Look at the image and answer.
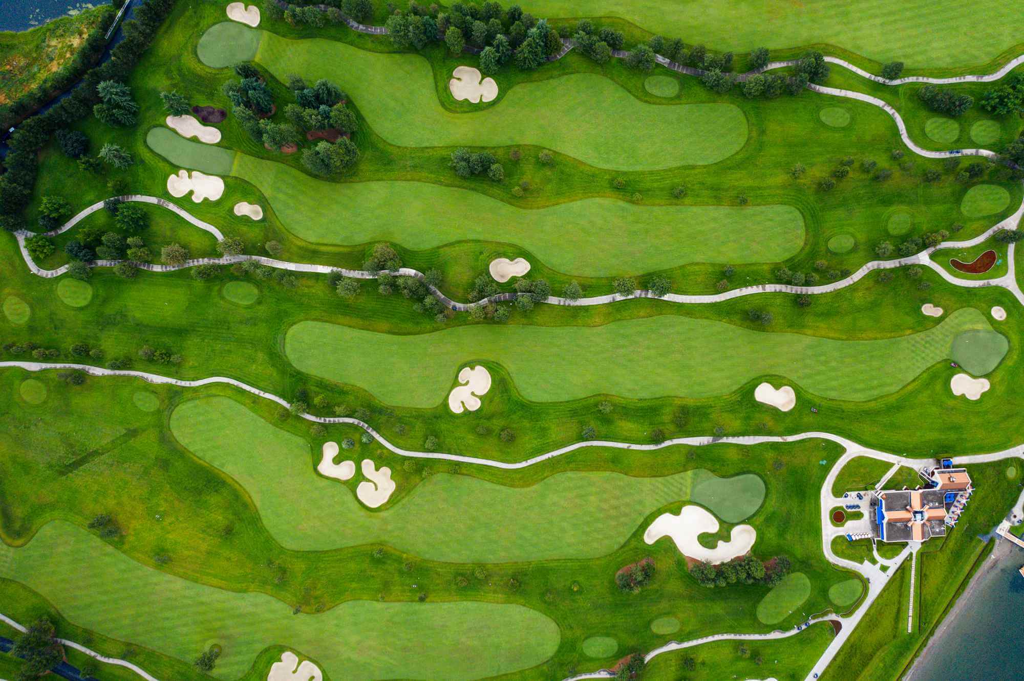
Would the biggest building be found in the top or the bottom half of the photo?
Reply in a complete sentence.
The bottom half of the photo is where the biggest building is.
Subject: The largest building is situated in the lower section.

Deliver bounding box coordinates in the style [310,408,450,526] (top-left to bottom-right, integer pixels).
[871,466,973,543]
